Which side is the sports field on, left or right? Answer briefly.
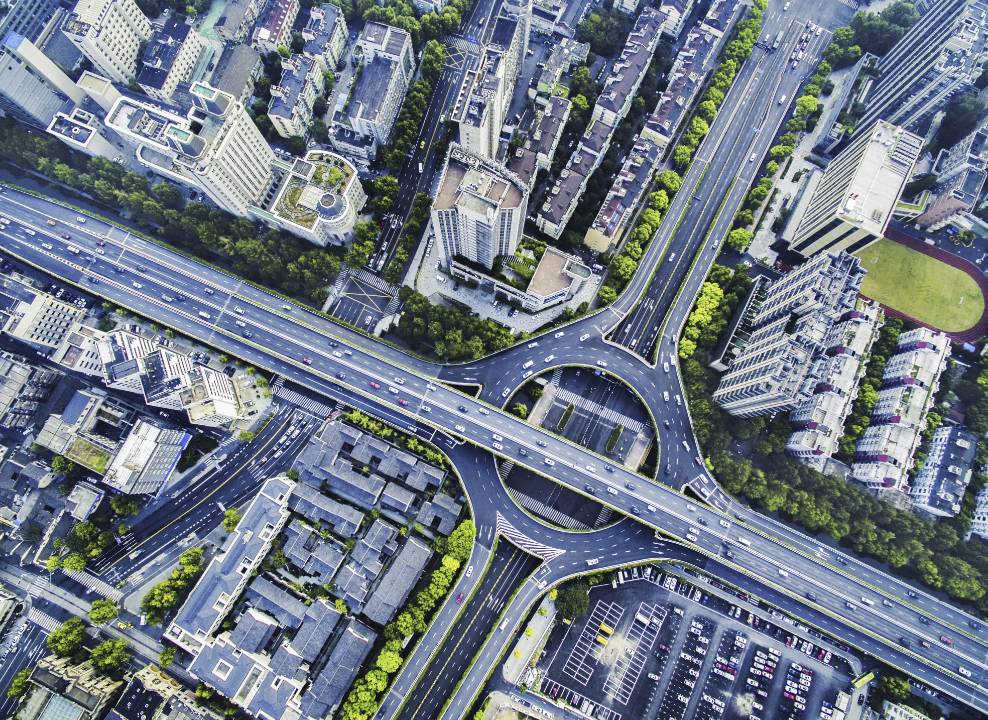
right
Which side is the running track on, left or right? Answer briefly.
right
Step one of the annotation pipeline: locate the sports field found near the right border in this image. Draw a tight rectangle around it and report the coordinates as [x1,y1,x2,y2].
[855,228,988,346]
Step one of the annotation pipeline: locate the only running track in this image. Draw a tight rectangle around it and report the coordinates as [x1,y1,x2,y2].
[855,228,988,346]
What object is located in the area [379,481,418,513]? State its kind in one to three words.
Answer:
house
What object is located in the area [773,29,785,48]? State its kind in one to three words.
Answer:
vehicle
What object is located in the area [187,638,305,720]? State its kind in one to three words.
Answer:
building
